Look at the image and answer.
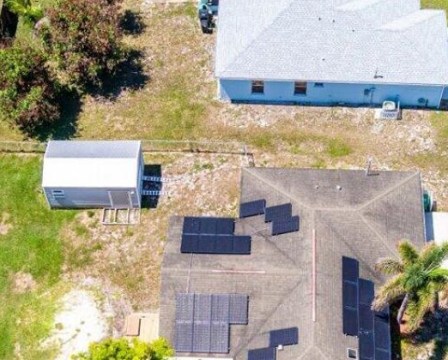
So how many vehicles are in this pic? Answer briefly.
0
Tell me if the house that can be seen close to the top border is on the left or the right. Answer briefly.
right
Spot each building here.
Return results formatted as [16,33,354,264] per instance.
[203,0,448,108]
[41,139,146,210]
[158,161,437,360]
